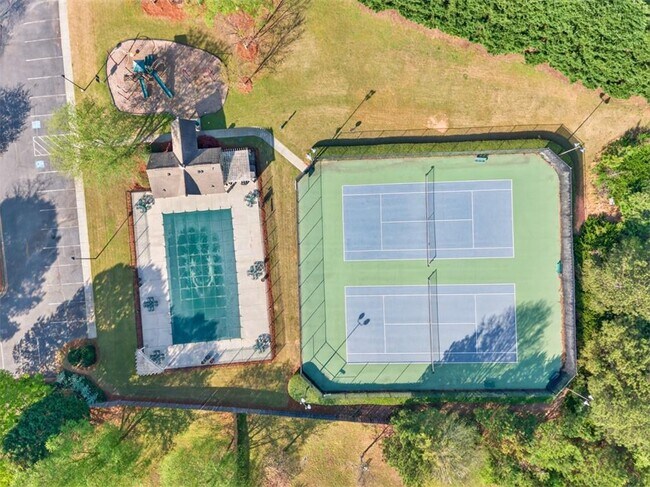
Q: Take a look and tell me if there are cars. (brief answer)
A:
No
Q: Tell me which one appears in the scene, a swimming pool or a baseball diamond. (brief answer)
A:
swimming pool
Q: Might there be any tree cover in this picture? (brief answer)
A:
Yes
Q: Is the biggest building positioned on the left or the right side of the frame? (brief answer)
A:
left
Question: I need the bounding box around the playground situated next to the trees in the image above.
[108,39,227,116]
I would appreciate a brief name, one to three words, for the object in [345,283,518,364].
tennis court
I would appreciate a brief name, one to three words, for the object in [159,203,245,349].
swimming pool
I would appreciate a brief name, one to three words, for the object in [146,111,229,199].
building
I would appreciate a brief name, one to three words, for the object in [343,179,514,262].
tennis court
